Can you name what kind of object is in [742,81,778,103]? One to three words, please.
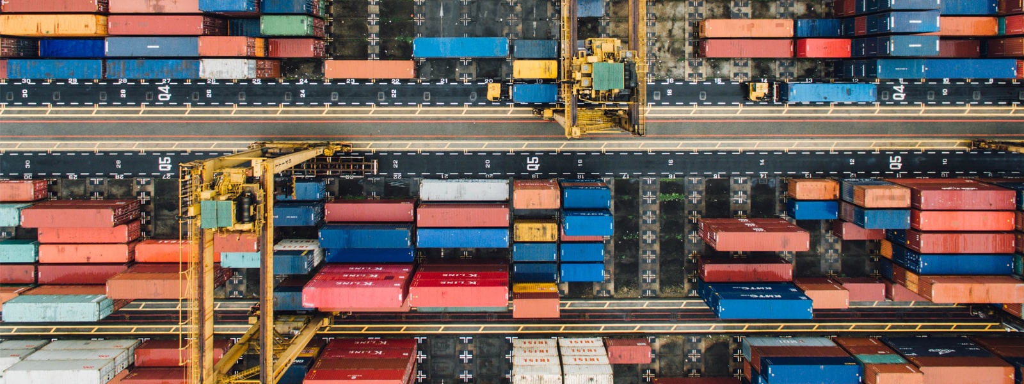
truck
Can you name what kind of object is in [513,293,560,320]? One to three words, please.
shipping container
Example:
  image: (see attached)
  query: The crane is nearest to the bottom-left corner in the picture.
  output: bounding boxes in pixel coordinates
[173,141,349,384]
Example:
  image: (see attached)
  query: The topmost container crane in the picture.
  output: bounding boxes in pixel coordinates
[530,0,649,139]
